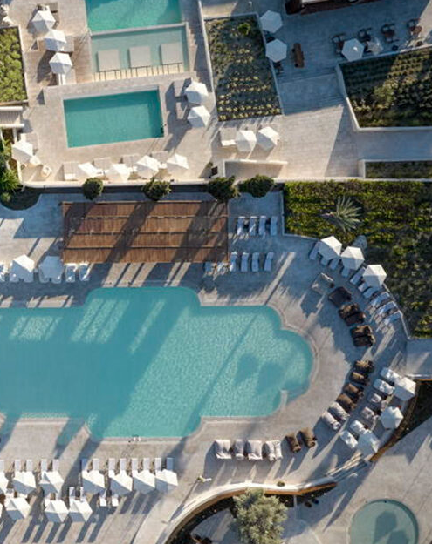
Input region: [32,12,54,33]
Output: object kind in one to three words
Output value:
umbrella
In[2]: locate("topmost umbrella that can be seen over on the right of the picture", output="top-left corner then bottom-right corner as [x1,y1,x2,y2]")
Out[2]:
[259,12,282,34]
